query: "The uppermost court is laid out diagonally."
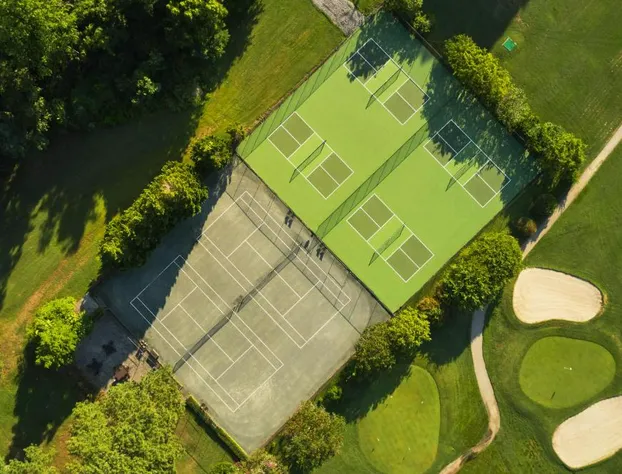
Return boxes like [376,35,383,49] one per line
[344,37,430,125]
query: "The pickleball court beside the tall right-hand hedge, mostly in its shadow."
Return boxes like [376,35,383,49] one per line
[424,120,510,207]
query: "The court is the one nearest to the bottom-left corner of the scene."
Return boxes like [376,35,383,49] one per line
[126,252,288,416]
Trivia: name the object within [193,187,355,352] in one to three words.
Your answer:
tennis court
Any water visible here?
No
